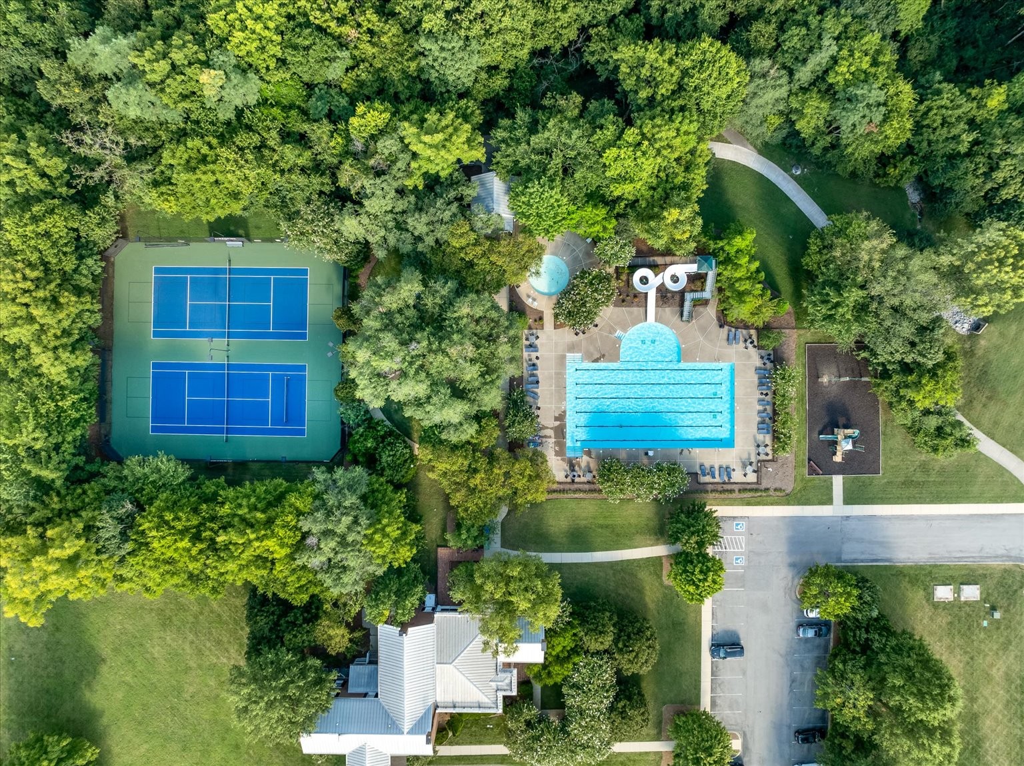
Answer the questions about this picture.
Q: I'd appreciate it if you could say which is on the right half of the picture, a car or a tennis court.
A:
car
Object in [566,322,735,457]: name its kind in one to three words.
swimming pool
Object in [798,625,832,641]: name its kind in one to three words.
car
